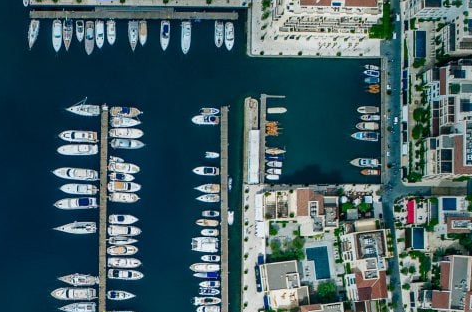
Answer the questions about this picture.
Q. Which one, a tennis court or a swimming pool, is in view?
swimming pool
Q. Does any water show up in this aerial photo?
Yes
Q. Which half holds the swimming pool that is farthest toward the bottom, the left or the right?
right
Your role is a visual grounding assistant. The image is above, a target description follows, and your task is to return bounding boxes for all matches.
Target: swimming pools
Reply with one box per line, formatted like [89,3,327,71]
[415,30,427,58]
[412,227,425,250]
[304,244,332,282]
[441,196,458,212]
[425,0,441,7]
